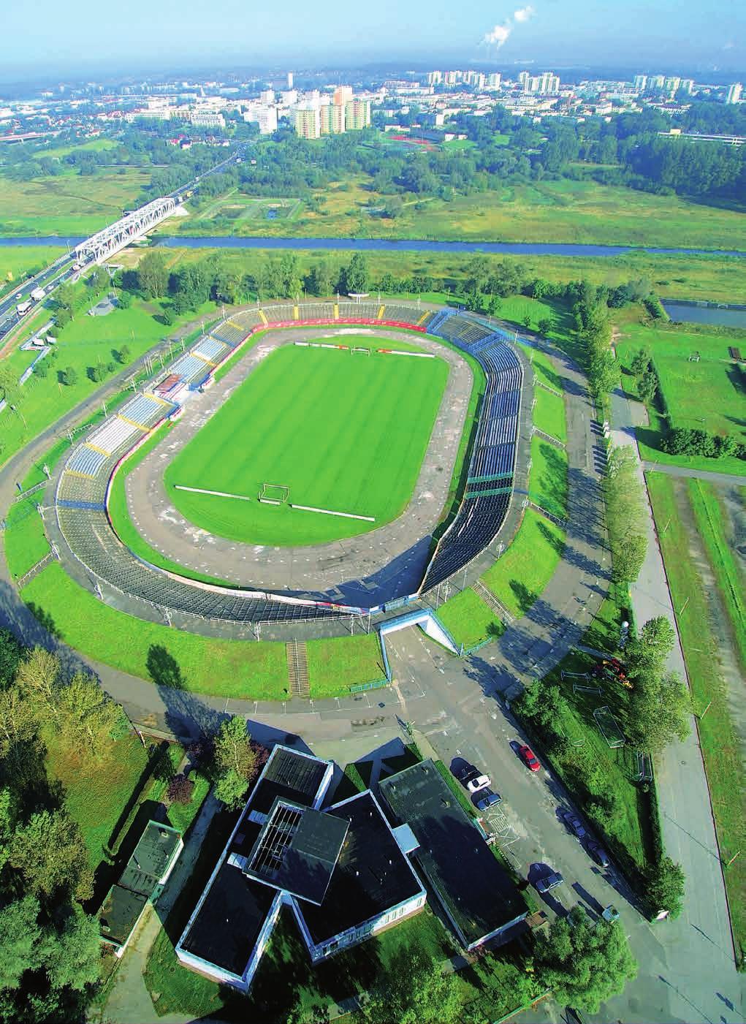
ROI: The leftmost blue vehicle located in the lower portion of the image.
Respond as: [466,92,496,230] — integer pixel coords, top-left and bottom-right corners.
[476,792,502,812]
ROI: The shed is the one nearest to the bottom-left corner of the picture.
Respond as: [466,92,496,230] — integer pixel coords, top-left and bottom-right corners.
[95,885,152,954]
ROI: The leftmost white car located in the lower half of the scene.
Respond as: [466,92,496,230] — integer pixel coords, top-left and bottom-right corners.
[466,773,492,793]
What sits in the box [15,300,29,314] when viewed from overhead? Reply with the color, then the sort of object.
white vehicle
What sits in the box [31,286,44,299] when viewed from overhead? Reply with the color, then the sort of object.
white vehicle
